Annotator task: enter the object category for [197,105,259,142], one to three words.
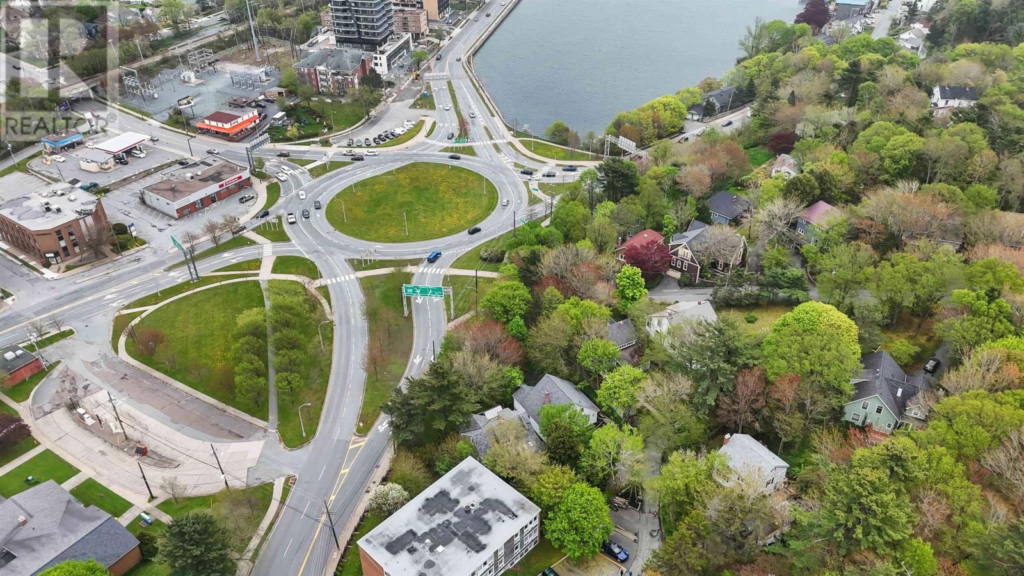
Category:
building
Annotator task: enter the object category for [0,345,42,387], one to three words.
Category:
building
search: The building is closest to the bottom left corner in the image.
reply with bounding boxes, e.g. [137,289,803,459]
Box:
[0,478,147,576]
